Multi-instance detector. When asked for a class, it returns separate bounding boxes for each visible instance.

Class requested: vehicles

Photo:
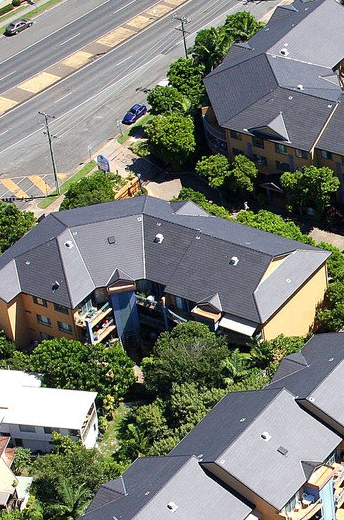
[5,20,30,34]
[153,78,171,90]
[121,106,146,122]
